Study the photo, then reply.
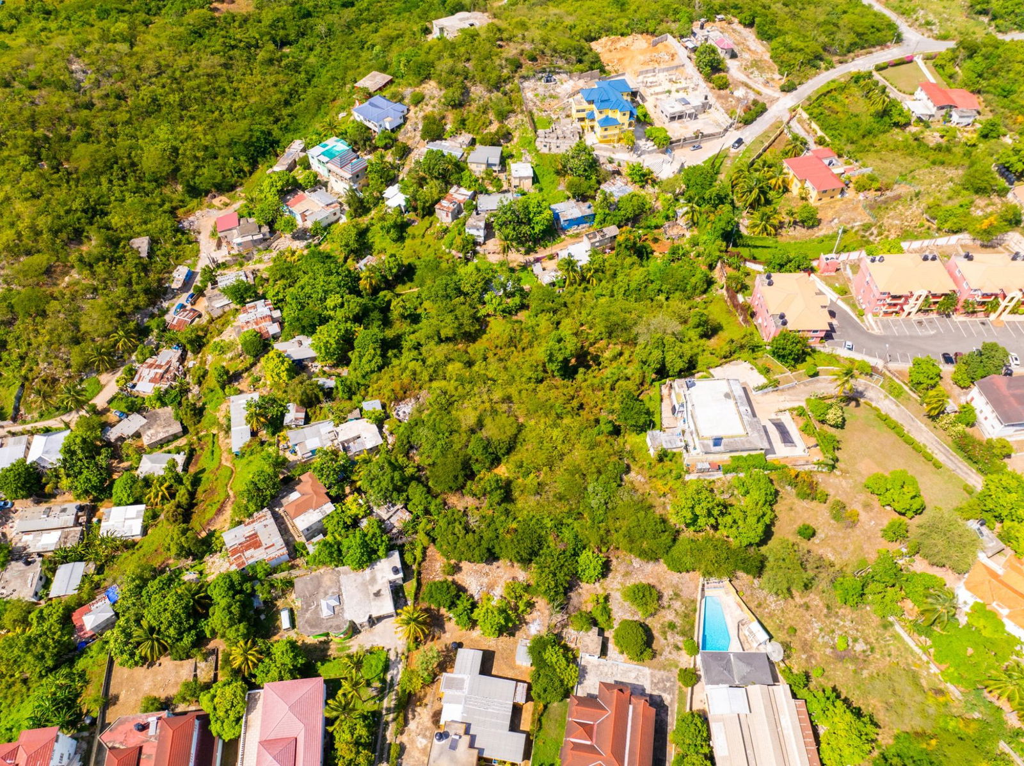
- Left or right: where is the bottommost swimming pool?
right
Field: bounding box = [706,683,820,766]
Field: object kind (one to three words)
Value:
building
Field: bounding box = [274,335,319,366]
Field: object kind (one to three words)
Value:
house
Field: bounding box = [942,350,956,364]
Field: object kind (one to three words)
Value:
car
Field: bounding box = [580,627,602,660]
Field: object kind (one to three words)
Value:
shed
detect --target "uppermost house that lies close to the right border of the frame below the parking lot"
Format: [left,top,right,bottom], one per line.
[969,375,1024,448]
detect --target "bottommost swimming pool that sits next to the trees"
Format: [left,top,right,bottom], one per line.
[700,578,768,652]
